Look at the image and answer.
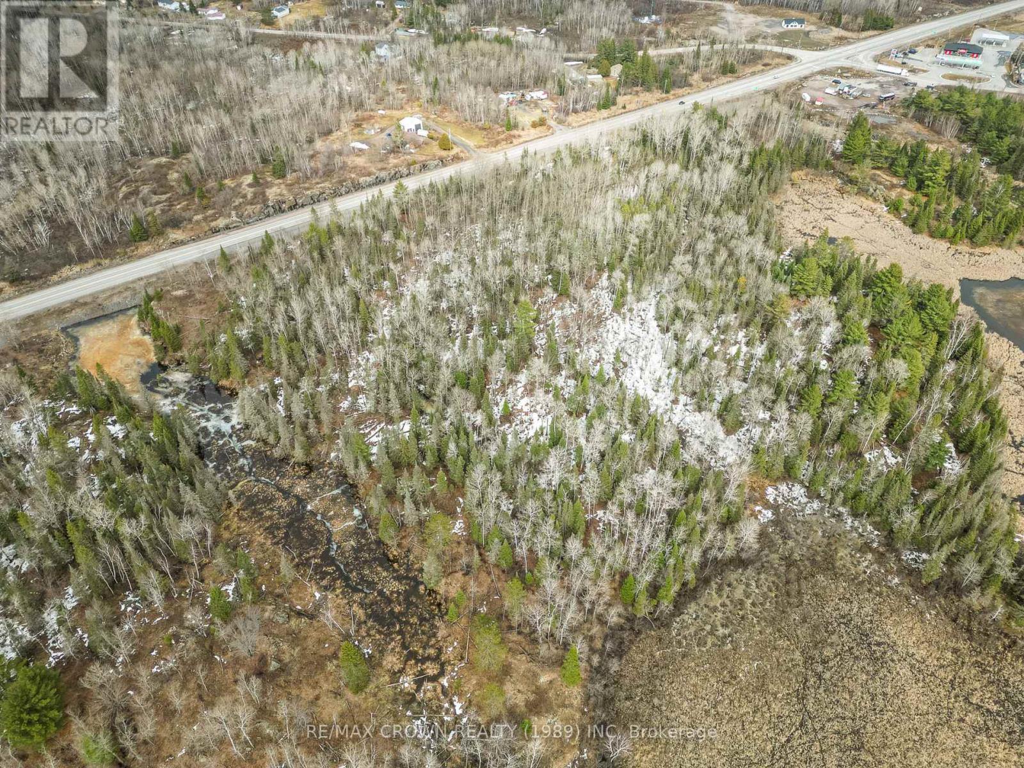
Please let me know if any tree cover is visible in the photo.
Yes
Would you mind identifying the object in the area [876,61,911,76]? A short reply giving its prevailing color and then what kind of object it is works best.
white vehicle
